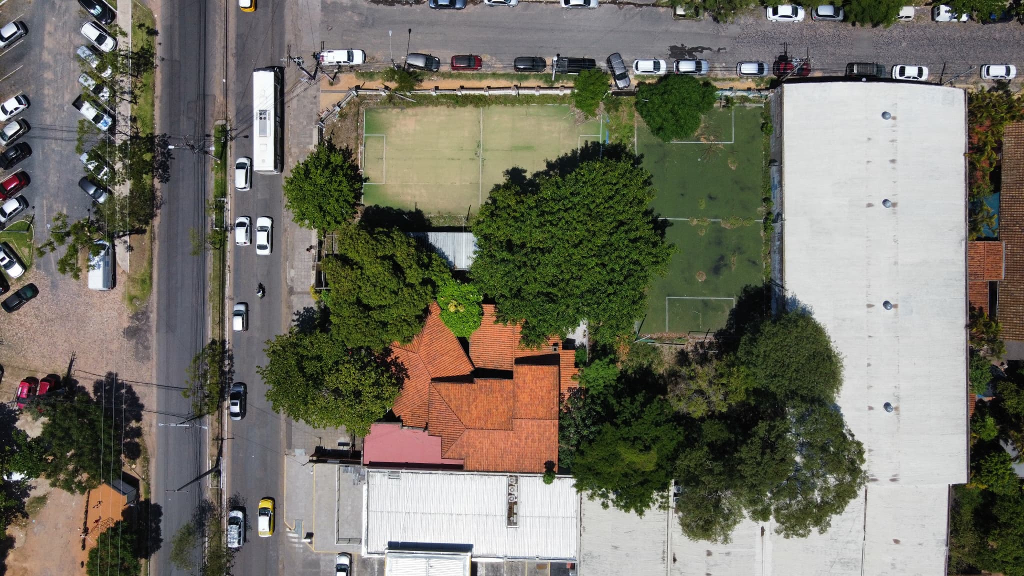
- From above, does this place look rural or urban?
urban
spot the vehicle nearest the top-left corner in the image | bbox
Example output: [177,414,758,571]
[0,22,28,50]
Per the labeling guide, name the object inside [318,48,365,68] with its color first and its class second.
white car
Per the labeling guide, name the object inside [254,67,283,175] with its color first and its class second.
white bus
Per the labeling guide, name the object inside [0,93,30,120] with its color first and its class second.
white car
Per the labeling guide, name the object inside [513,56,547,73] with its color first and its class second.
black car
